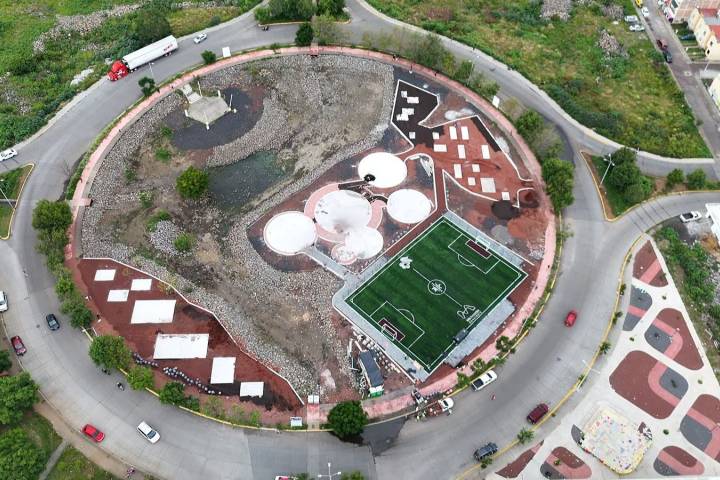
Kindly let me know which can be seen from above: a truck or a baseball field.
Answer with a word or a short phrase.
truck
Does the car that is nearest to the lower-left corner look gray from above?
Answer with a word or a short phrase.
No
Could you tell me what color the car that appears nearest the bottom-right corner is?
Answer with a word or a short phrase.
red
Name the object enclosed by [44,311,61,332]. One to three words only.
car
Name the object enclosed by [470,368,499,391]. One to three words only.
truck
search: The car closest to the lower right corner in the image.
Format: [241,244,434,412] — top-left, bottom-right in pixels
[525,401,551,424]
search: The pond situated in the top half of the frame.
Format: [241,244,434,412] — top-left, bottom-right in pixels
[205,149,290,216]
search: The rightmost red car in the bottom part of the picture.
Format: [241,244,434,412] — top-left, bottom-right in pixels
[562,309,578,328]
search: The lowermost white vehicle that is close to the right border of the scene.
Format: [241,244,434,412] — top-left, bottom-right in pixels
[679,209,703,223]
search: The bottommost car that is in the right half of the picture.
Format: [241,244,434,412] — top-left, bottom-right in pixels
[471,439,501,462]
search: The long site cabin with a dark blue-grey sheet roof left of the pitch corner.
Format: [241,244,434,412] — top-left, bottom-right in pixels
[359,351,383,388]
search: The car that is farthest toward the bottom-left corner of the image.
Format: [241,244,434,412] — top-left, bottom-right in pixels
[80,422,105,443]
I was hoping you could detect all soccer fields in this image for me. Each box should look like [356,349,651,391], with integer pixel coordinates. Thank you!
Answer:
[345,214,529,373]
